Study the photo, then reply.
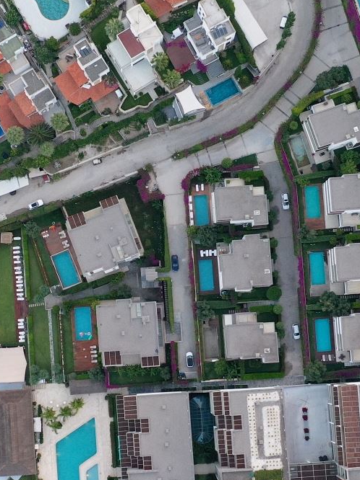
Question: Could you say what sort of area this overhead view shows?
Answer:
residential area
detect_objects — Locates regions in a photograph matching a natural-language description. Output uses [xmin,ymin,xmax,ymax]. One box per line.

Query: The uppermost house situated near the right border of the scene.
[301,99,360,155]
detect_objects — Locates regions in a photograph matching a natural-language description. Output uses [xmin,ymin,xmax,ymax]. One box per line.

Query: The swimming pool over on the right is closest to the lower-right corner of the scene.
[314,317,333,353]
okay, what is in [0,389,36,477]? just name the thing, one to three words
building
